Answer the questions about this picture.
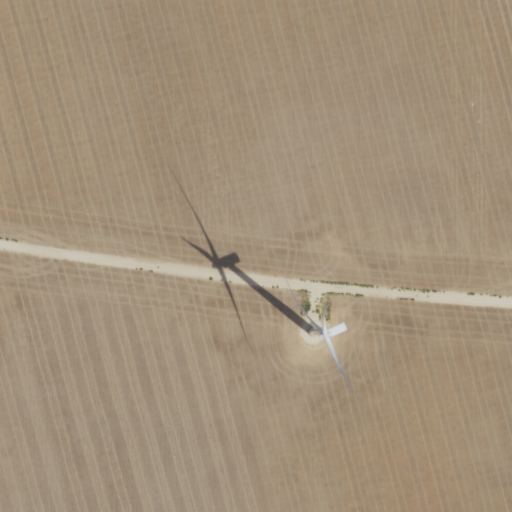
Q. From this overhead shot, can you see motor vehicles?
No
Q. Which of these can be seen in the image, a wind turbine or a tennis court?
wind turbine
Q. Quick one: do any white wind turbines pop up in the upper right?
No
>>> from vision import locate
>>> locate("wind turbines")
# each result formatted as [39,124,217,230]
[276,244,366,416]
